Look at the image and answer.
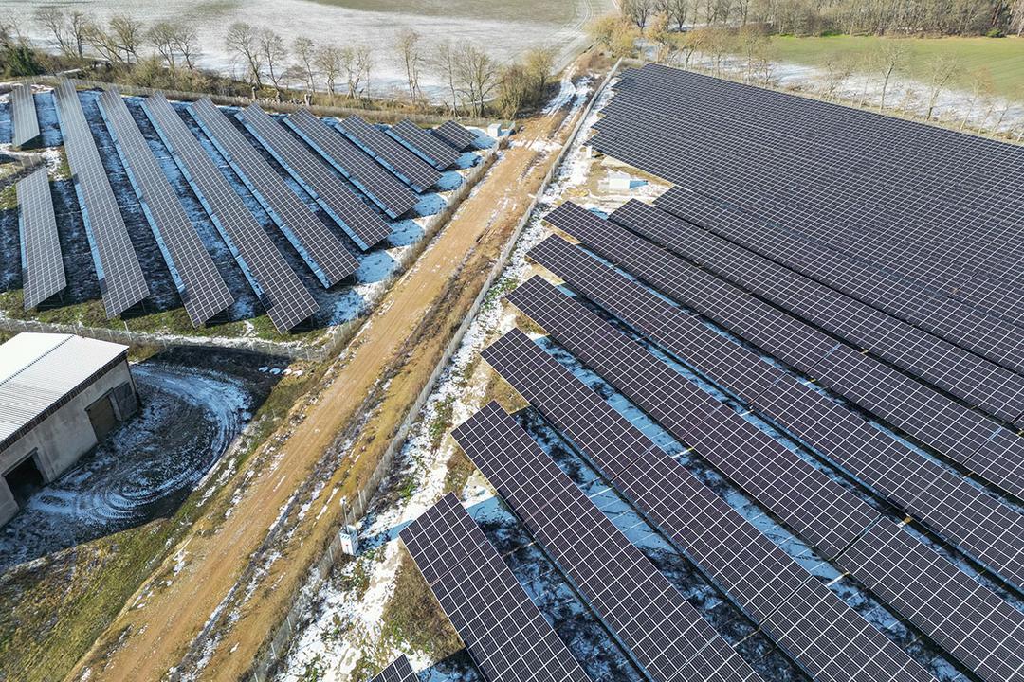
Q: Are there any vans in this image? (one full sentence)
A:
No, no van is visible in the view.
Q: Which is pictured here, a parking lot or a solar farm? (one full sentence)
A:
It's a solar farm.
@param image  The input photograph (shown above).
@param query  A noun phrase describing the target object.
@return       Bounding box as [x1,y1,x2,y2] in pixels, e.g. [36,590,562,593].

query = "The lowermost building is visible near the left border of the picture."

[0,325,147,523]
